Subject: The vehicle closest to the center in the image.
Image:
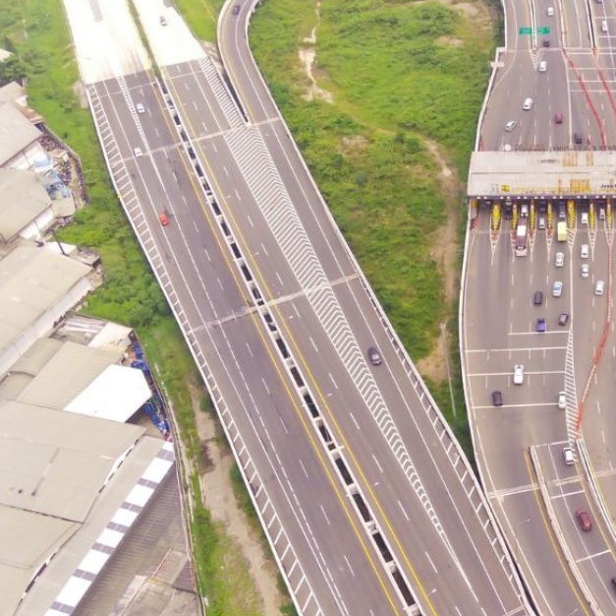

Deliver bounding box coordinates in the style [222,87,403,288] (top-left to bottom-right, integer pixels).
[367,347,380,362]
